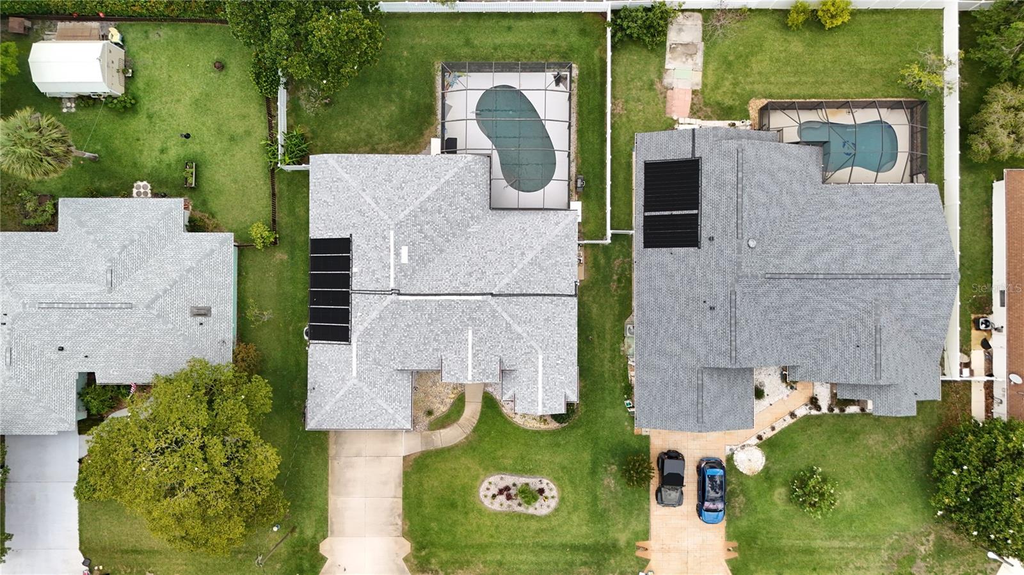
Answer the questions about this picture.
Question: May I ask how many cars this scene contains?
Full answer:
Altogether the scene contains 2 cars.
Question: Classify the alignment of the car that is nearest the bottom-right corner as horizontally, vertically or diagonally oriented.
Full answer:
The car that is nearest the bottom-right corner has been laid out vertically relative to the frame.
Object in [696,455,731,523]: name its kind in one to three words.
car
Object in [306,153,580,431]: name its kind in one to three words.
house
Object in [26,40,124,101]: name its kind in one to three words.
shed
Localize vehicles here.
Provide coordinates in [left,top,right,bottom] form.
[696,455,731,523]
[656,447,691,506]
